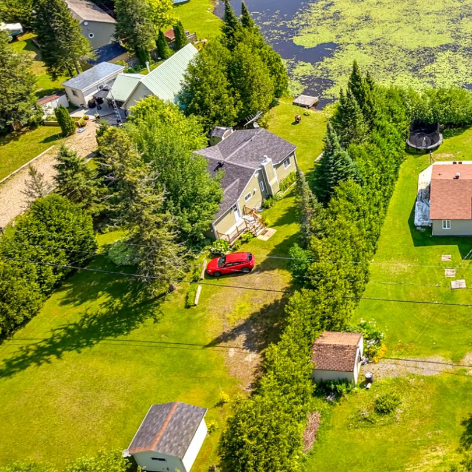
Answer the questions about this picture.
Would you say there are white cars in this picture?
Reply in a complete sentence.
No, I can't see a single white car in this photo.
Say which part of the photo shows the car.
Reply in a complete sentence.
The car appears toward the center of the photo.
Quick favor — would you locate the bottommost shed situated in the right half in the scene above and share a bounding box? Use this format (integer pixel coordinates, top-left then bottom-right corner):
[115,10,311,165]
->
[309,334,365,386]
